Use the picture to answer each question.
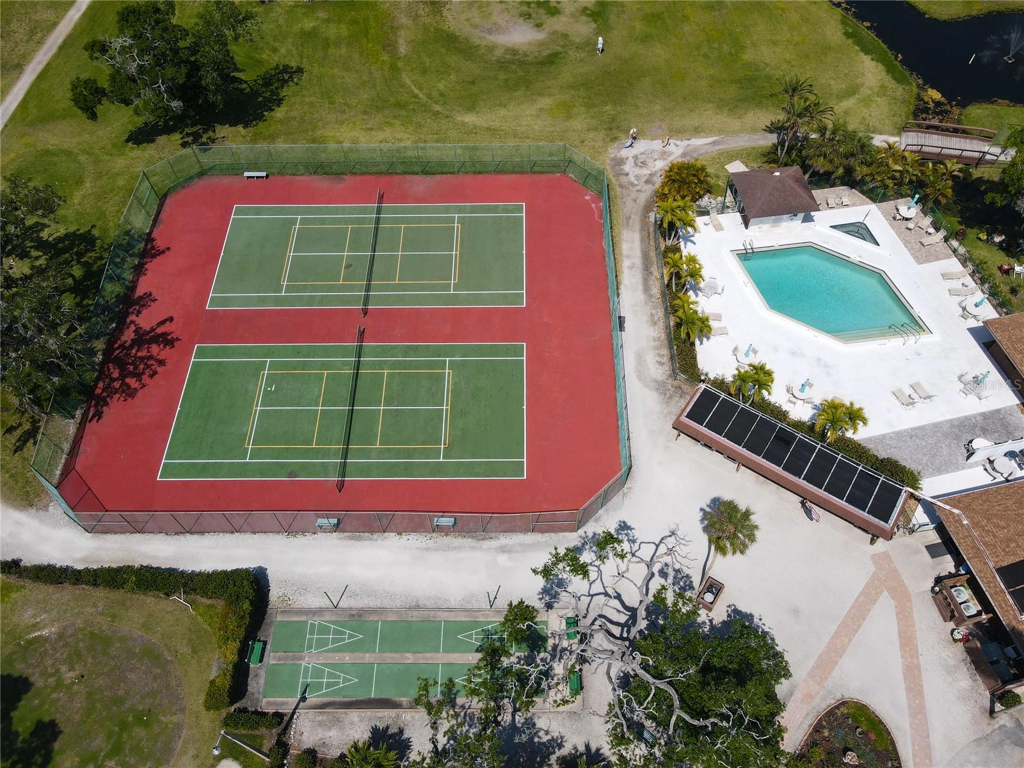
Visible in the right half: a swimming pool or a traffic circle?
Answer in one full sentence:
What appears in the right half is a swimming pool.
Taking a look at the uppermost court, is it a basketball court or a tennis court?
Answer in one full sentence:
I'd identify the uppermost court as a tennis court.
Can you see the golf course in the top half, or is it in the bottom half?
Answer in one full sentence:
The golf course is in the top half of the image.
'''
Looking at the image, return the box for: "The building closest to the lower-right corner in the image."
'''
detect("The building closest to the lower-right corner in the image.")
[909,477,1024,660]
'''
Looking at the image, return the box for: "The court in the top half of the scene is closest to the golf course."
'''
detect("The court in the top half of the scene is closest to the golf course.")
[206,203,526,308]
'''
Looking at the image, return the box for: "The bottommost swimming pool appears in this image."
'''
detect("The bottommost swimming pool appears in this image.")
[731,241,933,343]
